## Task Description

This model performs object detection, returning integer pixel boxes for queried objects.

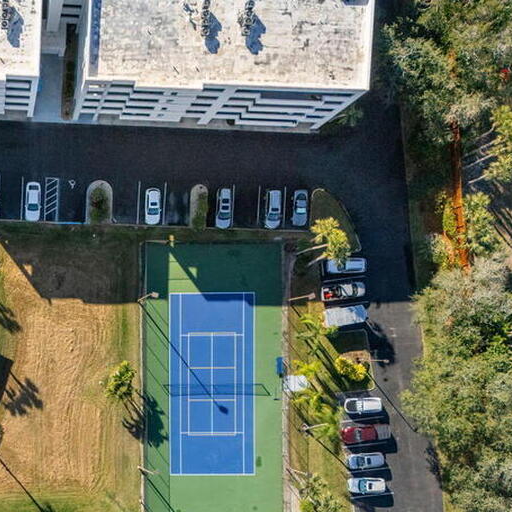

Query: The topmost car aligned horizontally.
[325,258,366,274]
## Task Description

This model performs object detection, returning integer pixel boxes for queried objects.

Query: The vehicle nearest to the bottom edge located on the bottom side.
[347,477,387,495]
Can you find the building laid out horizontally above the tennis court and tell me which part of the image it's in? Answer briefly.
top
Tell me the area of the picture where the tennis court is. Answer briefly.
bottom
